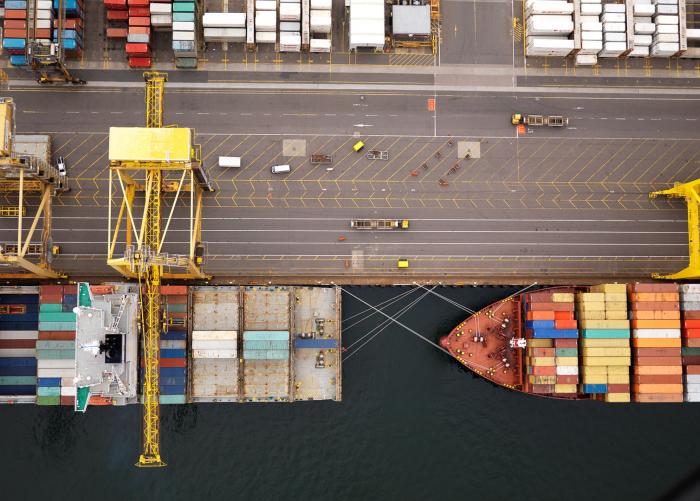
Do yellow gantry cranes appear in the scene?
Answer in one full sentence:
Yes, a yellow gantry crane appears in the view.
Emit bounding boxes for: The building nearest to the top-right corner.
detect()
[388,4,431,46]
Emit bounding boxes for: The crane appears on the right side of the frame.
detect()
[647,176,700,278]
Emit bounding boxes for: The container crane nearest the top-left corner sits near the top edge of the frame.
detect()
[21,0,88,81]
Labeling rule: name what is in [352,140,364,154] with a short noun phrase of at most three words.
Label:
vehicle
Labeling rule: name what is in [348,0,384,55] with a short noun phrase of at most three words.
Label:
shed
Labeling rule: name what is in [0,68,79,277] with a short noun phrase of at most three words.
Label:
container crane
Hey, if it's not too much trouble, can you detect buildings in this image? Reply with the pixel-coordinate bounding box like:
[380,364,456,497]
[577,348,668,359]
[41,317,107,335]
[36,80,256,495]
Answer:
[348,0,384,55]
[388,4,431,46]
